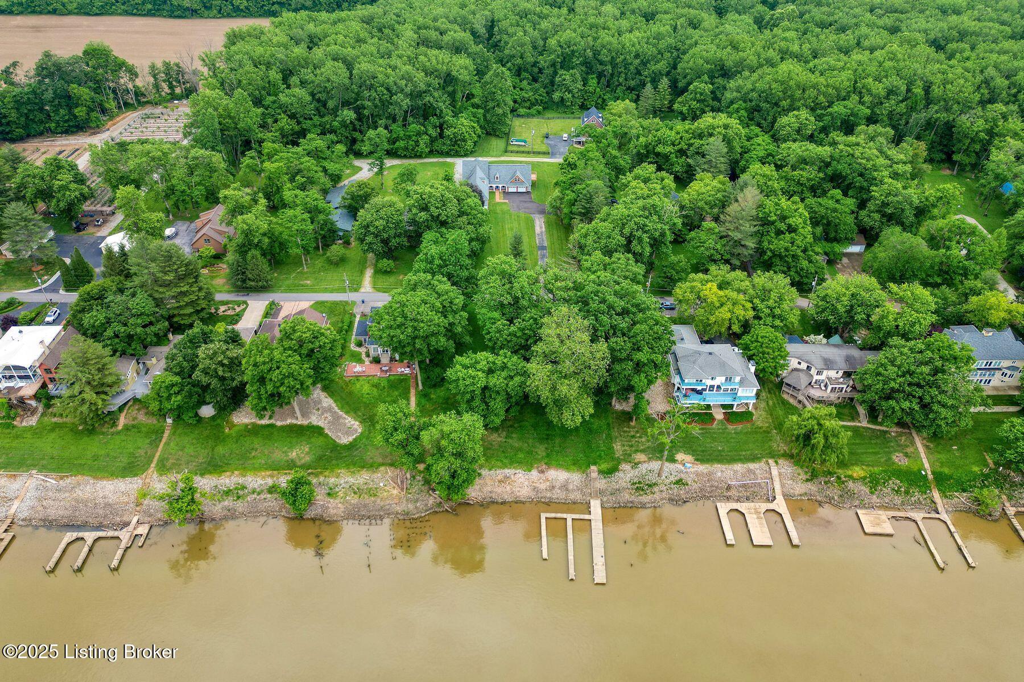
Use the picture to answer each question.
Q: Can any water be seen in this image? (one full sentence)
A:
Yes, some water is visible.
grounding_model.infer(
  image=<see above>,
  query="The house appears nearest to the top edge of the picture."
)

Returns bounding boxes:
[580,109,605,142]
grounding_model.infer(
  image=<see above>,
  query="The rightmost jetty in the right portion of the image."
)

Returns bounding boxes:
[999,495,1024,544]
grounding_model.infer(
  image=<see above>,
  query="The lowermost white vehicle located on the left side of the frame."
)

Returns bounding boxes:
[44,309,60,323]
